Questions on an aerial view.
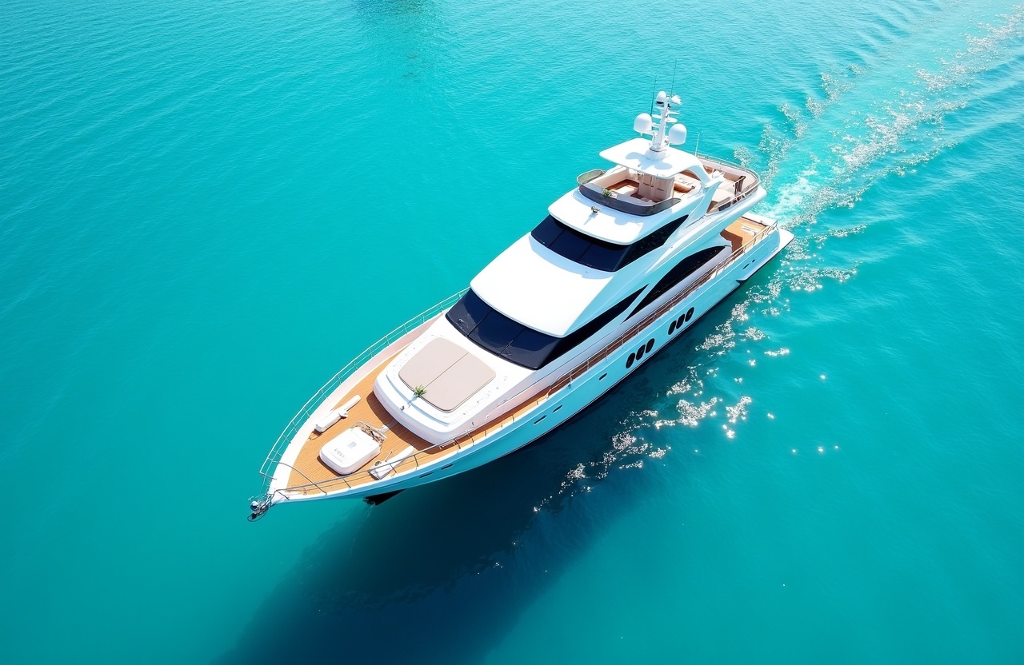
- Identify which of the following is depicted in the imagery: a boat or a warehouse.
boat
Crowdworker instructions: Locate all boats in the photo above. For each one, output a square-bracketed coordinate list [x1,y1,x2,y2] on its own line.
[247,55,790,527]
